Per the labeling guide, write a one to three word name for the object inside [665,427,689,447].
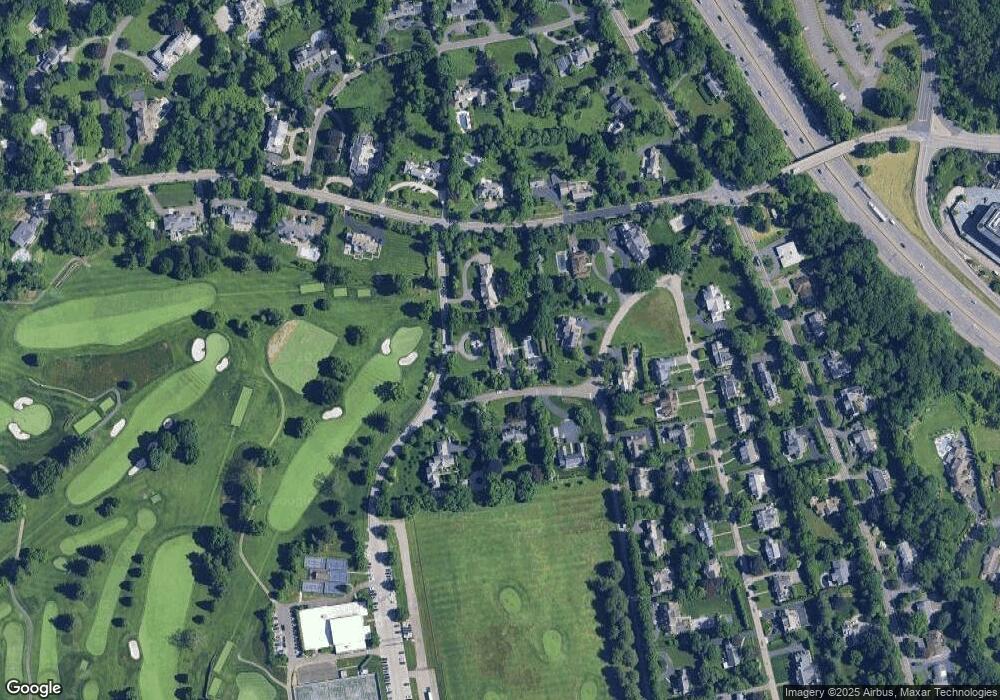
house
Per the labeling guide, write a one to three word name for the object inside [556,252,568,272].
swimming pool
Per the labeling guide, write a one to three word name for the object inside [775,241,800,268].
building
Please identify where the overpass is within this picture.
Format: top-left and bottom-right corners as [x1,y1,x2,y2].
[780,138,856,181]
